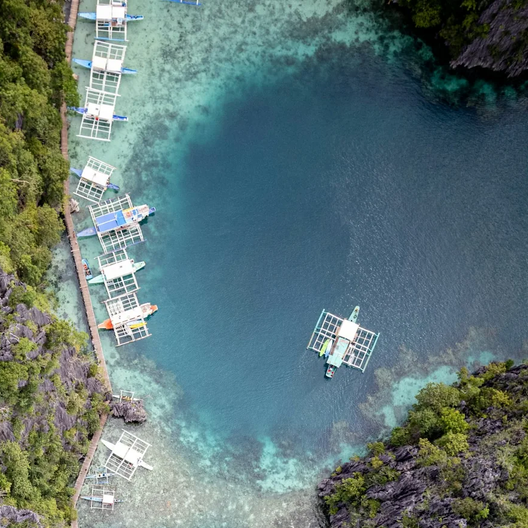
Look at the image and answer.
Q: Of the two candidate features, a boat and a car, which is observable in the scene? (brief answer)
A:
boat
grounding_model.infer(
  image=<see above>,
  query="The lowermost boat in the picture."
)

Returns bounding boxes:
[81,484,125,510]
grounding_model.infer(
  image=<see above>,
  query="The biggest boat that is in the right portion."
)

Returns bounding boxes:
[307,306,380,379]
